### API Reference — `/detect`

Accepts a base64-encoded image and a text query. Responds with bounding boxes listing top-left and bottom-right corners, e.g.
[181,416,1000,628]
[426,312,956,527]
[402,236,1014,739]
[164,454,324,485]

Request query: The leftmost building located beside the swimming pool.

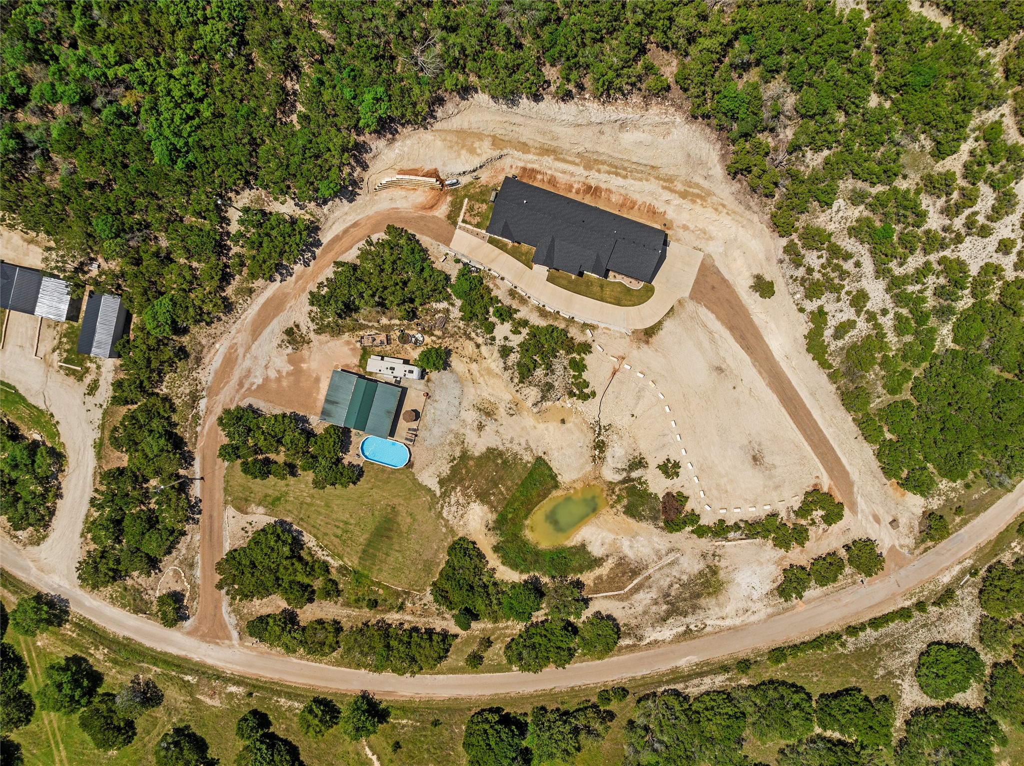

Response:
[320,370,402,440]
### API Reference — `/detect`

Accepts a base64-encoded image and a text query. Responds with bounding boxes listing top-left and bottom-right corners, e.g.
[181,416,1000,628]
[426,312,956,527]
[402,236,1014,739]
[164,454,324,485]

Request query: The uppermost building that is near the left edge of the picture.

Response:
[0,263,81,322]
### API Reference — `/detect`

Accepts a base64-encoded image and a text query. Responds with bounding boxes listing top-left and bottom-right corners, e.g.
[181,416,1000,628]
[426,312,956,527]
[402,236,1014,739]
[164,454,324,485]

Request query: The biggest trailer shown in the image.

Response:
[366,356,428,382]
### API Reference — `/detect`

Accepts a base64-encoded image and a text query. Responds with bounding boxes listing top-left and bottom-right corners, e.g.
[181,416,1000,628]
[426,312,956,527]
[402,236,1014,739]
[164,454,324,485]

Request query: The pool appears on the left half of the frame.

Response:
[360,436,410,468]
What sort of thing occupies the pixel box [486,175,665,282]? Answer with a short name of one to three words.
house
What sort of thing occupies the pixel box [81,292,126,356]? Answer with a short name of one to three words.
shed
